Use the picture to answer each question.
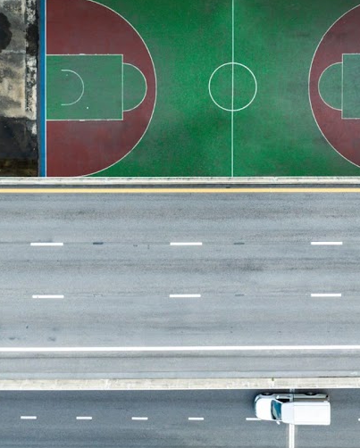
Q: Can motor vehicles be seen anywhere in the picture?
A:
Yes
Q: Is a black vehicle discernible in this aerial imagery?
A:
No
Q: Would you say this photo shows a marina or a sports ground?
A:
sports ground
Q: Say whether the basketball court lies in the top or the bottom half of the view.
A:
top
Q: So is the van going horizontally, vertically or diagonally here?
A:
horizontally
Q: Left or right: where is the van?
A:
right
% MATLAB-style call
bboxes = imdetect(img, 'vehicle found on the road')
[256,392,330,428]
